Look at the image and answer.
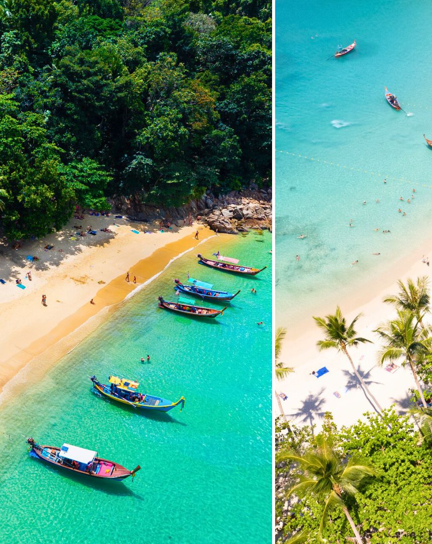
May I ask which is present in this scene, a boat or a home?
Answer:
boat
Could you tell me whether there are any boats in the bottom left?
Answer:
Yes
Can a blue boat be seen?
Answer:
Yes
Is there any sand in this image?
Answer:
Yes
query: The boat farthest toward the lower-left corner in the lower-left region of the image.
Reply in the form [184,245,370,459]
[24,437,143,481]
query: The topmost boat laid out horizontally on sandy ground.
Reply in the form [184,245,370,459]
[191,250,270,275]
